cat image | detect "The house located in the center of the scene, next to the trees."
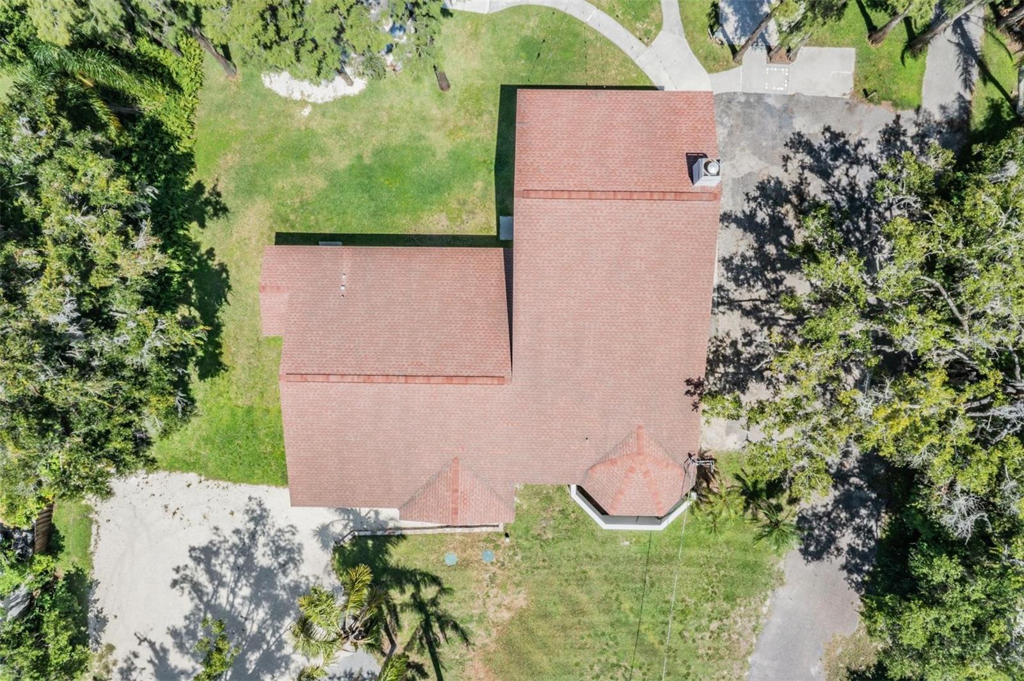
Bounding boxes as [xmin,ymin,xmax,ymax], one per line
[260,89,723,530]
